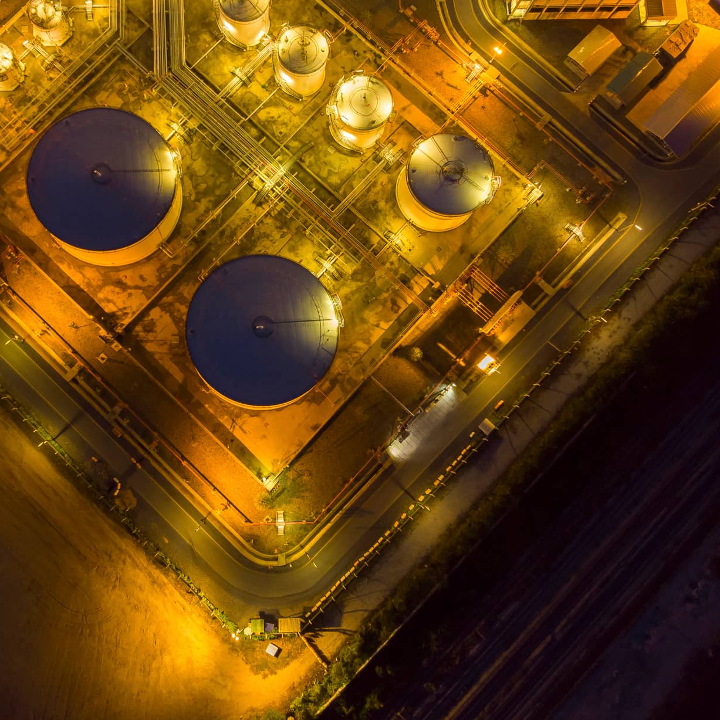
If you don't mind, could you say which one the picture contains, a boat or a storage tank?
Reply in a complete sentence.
It is a storage tank that can be seen here.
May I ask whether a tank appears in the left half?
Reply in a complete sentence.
Yes, looking in the left half, one can make out a tank.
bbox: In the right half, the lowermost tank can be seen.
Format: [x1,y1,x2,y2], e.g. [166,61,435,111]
[394,132,503,236]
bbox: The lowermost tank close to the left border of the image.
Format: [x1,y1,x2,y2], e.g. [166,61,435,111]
[25,108,186,271]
